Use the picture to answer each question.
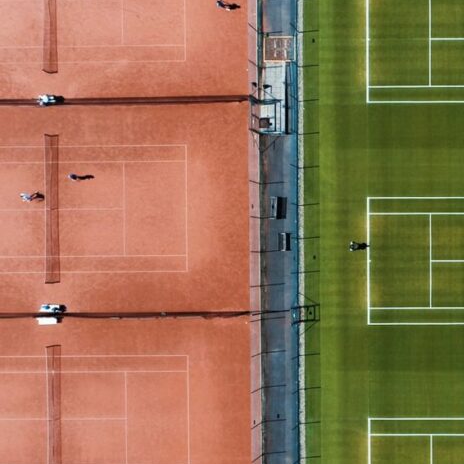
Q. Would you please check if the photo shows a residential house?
No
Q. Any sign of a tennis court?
Yes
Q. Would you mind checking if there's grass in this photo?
Yes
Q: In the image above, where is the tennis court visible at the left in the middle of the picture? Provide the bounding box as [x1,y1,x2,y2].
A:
[0,144,189,273]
